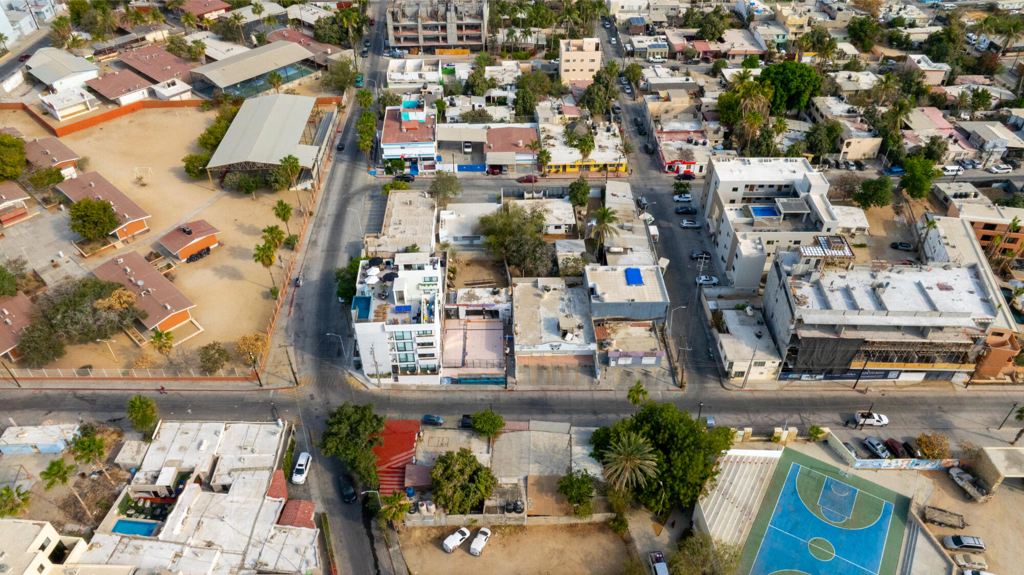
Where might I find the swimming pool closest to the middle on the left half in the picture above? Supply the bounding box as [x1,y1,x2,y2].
[354,298,370,320]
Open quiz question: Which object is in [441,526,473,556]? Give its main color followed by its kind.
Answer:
white truck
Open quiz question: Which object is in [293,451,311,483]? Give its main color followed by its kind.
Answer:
white car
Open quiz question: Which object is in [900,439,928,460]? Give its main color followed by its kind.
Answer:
black car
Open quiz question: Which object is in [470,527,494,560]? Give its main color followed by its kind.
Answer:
white truck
